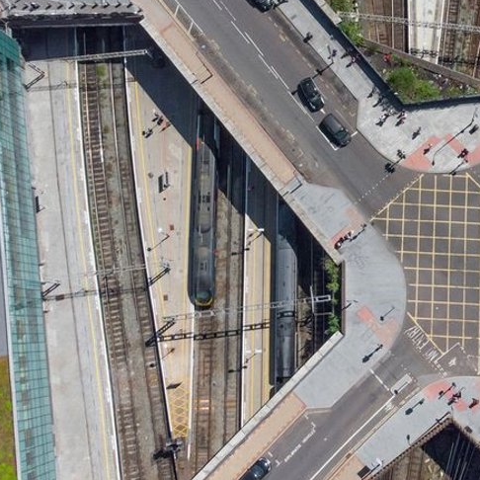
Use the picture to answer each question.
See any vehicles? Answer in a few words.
Yes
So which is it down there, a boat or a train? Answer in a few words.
train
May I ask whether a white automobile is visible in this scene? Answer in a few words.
No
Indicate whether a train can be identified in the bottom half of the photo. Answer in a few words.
Yes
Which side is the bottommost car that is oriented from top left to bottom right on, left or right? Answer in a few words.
right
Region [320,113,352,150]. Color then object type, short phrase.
black car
